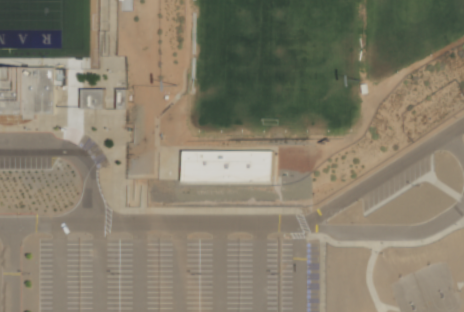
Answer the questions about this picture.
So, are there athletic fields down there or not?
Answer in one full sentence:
Yes, looking at the shot, I can spot an athletic field.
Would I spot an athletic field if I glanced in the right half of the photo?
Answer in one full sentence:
Yes, an athletic field can be seen in the right half of the photo.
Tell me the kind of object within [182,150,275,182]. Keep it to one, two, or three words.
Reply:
building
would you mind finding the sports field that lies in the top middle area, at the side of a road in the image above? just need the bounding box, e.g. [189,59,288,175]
[184,0,364,138]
